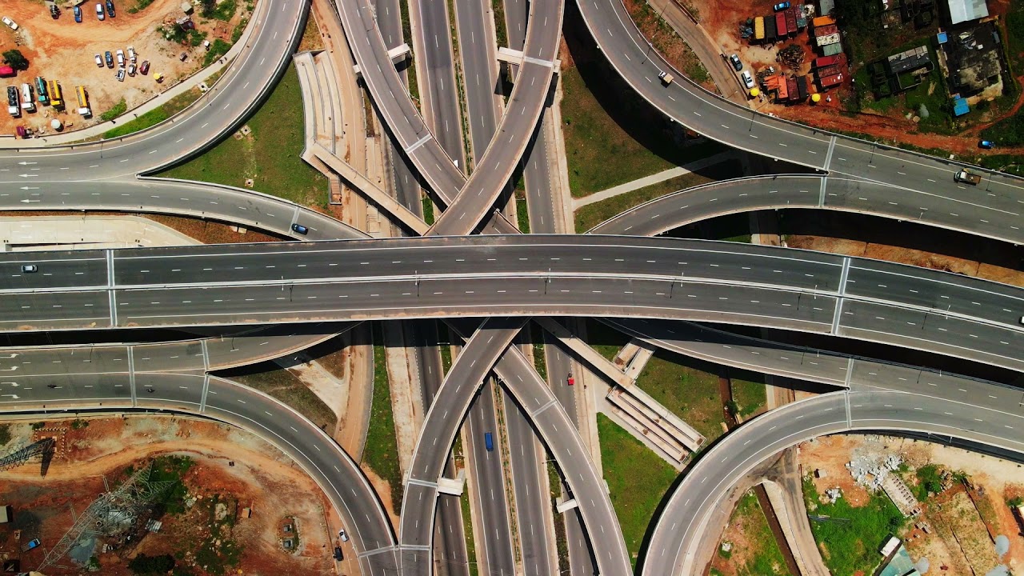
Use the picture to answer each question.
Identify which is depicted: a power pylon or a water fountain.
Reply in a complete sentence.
The image shows a power pylon.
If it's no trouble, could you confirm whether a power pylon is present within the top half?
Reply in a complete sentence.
No, no power pylon appears within the top half.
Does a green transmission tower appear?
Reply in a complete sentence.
No, no green transmission tower can be seen from above.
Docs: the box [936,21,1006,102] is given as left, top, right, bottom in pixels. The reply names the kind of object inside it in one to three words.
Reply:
building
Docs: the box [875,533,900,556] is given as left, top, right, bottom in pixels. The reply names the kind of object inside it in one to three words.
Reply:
shed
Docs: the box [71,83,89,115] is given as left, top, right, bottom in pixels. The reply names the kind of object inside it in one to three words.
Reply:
vehicle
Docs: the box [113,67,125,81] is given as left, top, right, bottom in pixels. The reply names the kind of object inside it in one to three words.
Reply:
vehicle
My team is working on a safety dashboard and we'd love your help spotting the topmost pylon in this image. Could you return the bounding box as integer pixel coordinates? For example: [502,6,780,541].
[0,433,60,471]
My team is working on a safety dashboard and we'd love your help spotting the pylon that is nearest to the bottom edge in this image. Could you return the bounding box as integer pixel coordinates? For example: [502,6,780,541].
[27,461,178,575]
